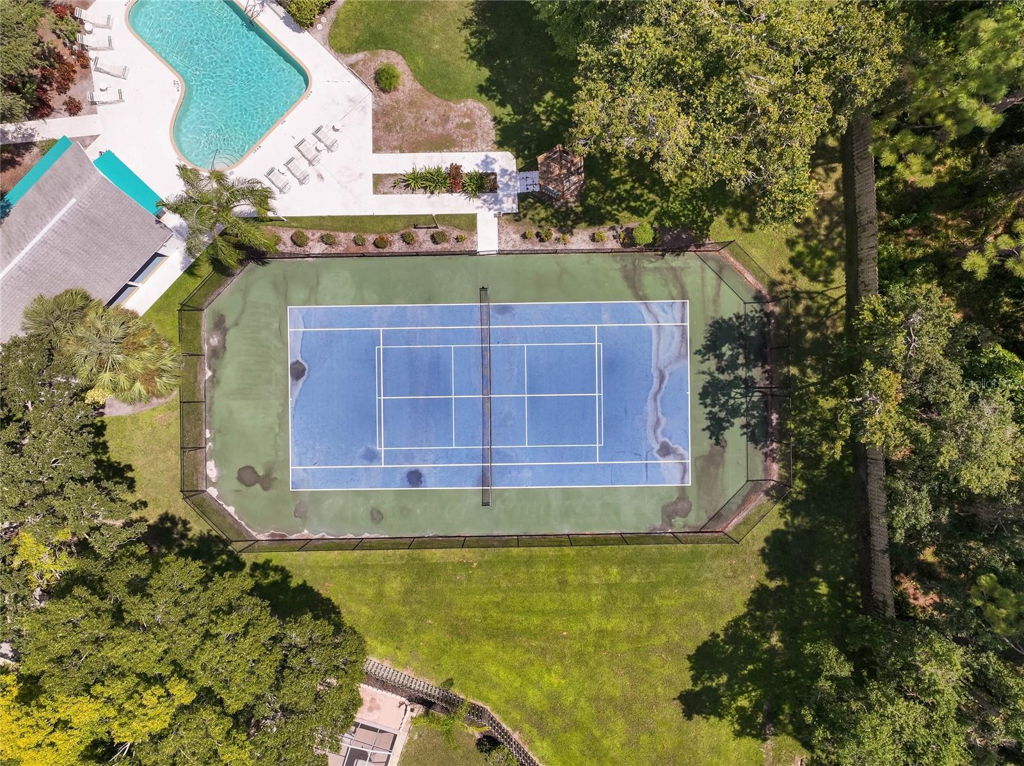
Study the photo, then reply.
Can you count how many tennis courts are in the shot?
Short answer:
1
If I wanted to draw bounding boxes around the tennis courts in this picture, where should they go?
[205,251,771,540]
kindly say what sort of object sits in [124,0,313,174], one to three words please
swimming pool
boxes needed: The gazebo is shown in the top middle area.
[536,145,585,205]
